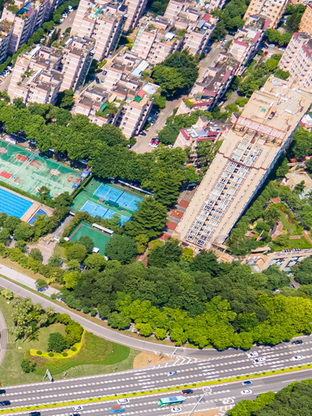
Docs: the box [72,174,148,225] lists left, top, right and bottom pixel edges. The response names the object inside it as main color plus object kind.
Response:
blue tennis court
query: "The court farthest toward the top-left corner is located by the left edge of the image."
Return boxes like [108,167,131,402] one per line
[0,139,91,195]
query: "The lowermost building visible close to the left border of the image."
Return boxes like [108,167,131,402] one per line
[10,70,69,126]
